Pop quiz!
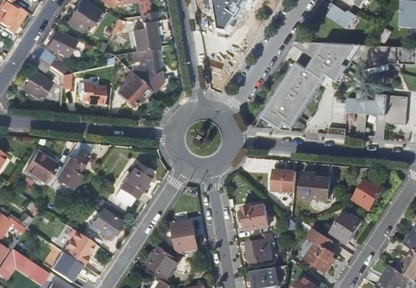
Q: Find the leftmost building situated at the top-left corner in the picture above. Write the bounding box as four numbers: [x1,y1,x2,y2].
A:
[0,0,28,33]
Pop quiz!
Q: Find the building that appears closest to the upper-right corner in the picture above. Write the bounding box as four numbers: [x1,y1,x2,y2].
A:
[399,0,416,28]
